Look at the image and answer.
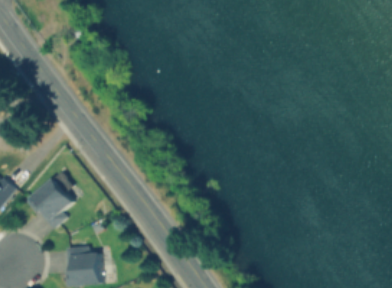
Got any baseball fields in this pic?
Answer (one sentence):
No, there is no baseball field in the image.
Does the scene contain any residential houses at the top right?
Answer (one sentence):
No, I can find no residential house at the top right.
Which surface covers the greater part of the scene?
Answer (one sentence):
The scene is dominated by water.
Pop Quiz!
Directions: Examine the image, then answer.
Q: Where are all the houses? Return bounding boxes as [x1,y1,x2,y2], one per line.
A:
[28,168,74,230]
[0,174,16,207]
[64,246,106,288]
